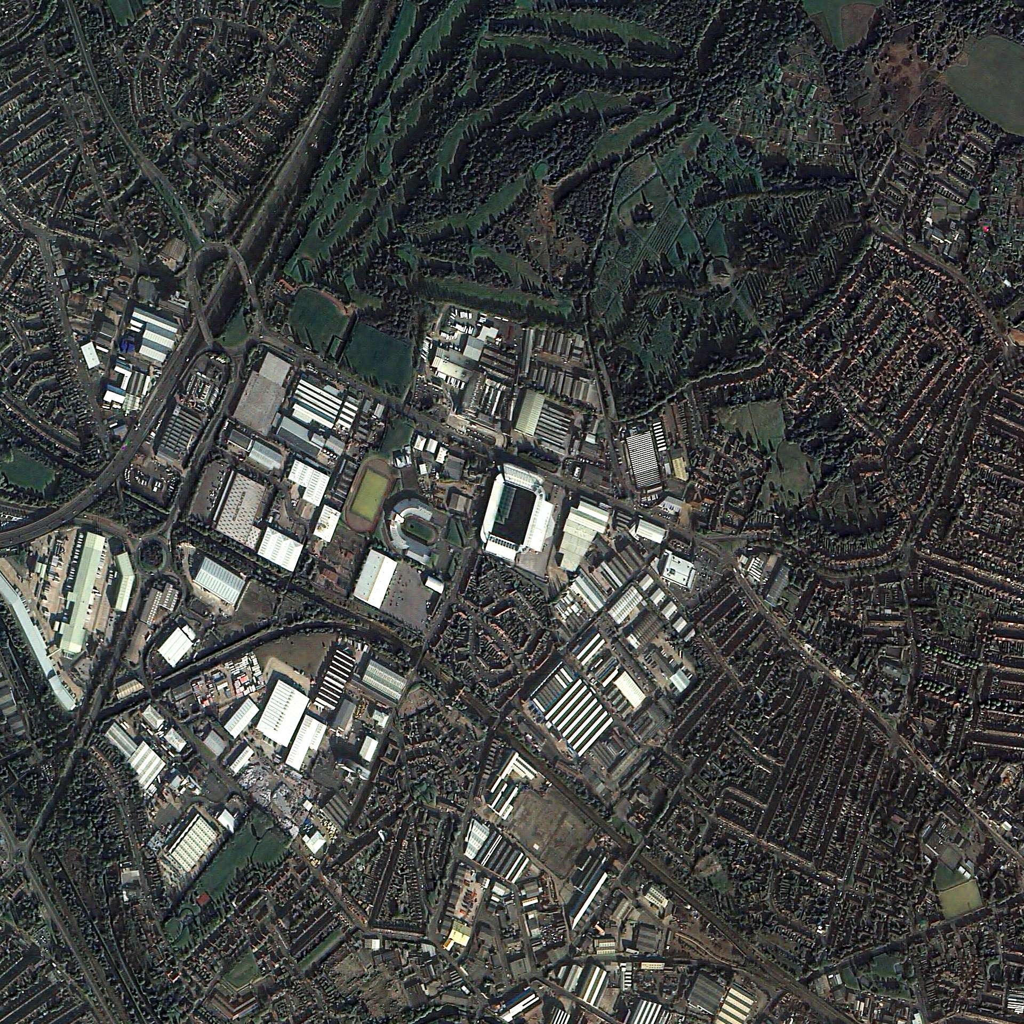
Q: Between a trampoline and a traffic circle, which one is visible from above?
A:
traffic circle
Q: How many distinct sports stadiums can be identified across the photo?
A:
2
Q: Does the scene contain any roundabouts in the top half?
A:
Yes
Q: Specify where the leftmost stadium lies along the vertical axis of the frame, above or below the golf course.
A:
below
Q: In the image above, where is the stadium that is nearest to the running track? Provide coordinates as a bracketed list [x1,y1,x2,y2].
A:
[382,498,454,564]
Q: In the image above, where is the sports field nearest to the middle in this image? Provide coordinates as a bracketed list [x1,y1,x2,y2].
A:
[493,490,534,545]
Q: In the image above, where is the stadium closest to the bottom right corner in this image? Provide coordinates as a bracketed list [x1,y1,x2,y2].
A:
[480,464,555,561]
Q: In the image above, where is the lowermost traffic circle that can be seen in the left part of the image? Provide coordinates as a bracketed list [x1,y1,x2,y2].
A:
[134,536,170,573]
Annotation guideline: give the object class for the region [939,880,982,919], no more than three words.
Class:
sports field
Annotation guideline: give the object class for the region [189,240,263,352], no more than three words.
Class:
roundabout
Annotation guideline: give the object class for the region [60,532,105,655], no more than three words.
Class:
shed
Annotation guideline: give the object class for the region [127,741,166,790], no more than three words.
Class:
building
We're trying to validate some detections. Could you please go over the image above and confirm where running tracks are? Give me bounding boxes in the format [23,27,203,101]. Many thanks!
[343,454,394,532]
